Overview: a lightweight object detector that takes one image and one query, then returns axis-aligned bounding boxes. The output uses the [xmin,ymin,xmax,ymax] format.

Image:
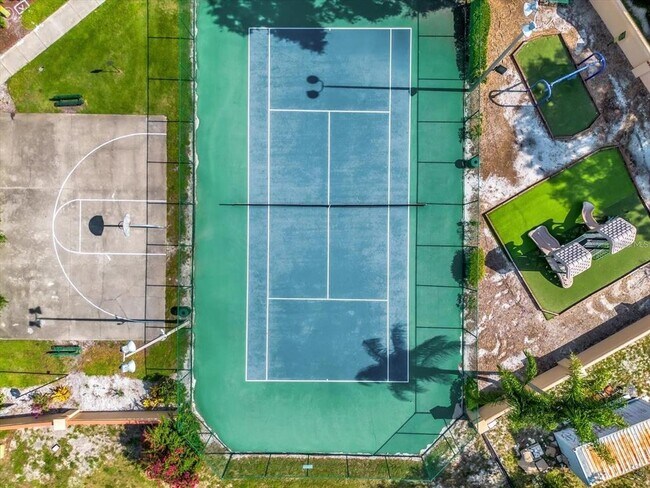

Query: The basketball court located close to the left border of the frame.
[0,113,166,340]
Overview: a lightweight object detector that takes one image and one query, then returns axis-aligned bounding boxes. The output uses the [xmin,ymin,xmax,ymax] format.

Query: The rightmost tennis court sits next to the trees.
[194,0,465,456]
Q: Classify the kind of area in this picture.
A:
sports ground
